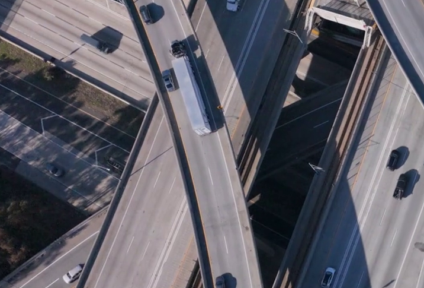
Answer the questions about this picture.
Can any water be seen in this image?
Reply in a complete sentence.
No, water can't be seen anywhere here.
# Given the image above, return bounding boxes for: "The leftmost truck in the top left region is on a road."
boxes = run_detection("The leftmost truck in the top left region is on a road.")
[81,33,110,54]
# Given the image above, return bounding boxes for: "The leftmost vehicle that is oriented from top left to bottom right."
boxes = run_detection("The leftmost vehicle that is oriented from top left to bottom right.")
[44,161,65,177]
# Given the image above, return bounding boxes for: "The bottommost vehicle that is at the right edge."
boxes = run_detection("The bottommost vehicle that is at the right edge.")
[392,172,408,199]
